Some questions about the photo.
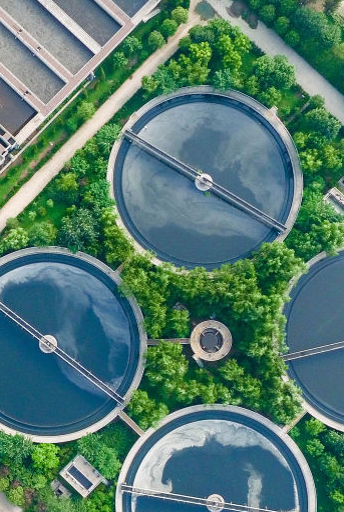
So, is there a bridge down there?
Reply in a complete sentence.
Yes, I can see a bridge in this picture.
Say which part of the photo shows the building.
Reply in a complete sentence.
The building appears toward the bottom left of the photo.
